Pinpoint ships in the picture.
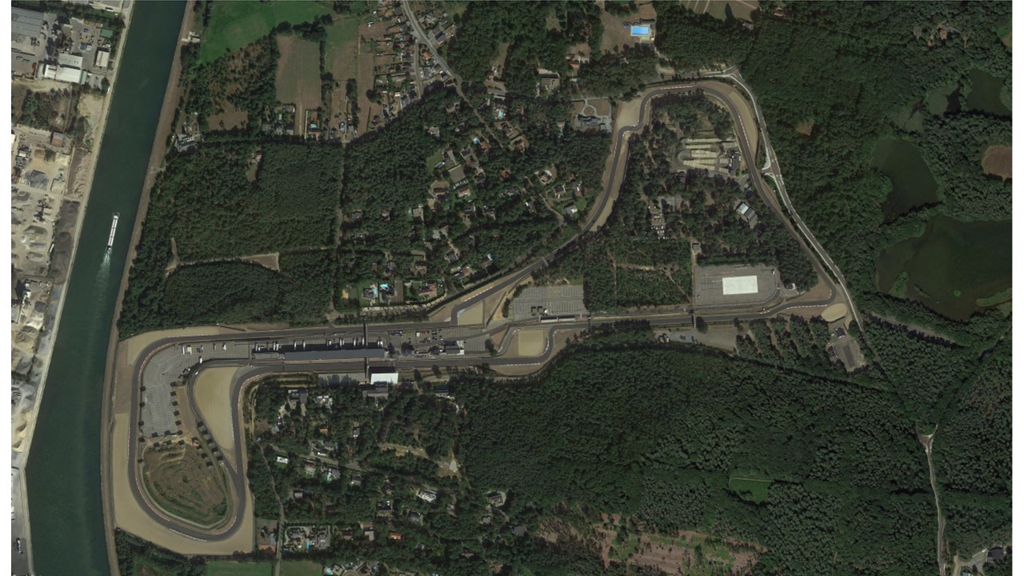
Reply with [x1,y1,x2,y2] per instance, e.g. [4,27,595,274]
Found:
[107,212,119,253]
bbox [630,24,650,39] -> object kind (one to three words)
swimming pool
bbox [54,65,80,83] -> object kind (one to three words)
building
